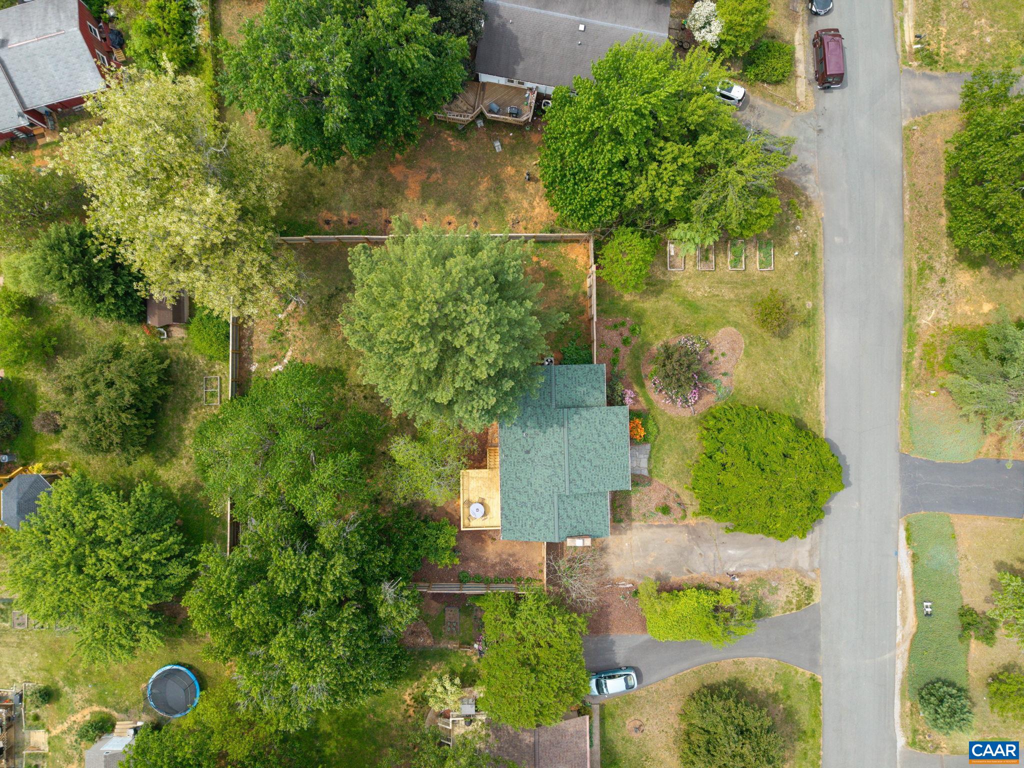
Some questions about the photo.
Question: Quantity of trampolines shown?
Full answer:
There is 1 trampoline in the image.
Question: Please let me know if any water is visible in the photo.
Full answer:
No, there is no water in the image.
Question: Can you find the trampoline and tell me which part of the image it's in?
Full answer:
The trampoline sits in the bottom left section of the image.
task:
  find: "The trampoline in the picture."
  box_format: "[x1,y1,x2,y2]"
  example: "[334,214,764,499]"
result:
[142,662,203,718]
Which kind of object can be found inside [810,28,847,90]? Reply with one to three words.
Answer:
car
